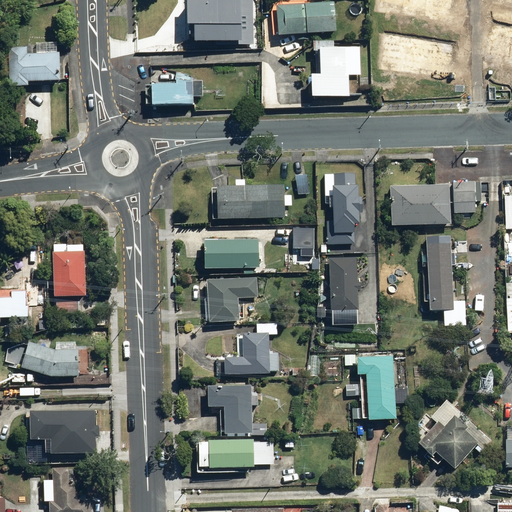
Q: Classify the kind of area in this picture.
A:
residential area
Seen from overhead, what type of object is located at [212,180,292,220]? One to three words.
house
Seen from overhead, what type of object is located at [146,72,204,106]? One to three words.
building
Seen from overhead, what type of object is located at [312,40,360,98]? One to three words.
house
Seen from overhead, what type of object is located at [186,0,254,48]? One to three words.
building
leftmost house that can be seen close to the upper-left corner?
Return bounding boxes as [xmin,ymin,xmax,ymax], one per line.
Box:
[9,42,60,86]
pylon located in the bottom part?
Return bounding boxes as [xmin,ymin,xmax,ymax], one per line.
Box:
[478,370,494,402]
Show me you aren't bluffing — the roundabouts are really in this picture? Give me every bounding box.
[103,140,138,176]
